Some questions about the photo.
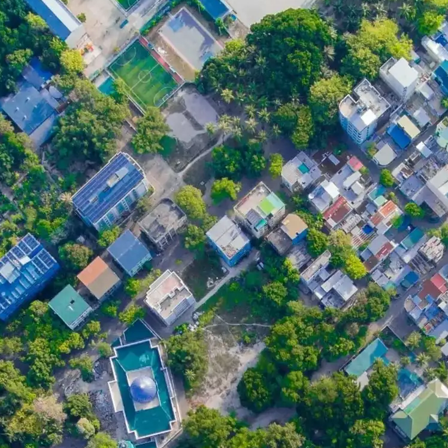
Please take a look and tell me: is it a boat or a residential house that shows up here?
residential house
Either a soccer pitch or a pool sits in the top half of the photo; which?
soccer pitch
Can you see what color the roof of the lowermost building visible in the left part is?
blue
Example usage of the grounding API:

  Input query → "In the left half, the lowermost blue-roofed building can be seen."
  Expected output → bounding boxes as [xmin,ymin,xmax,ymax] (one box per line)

[108,319,180,448]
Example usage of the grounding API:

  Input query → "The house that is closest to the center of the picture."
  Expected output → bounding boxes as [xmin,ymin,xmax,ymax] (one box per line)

[206,216,251,262]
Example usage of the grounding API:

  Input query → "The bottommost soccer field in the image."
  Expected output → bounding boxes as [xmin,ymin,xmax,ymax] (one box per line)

[105,36,184,106]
